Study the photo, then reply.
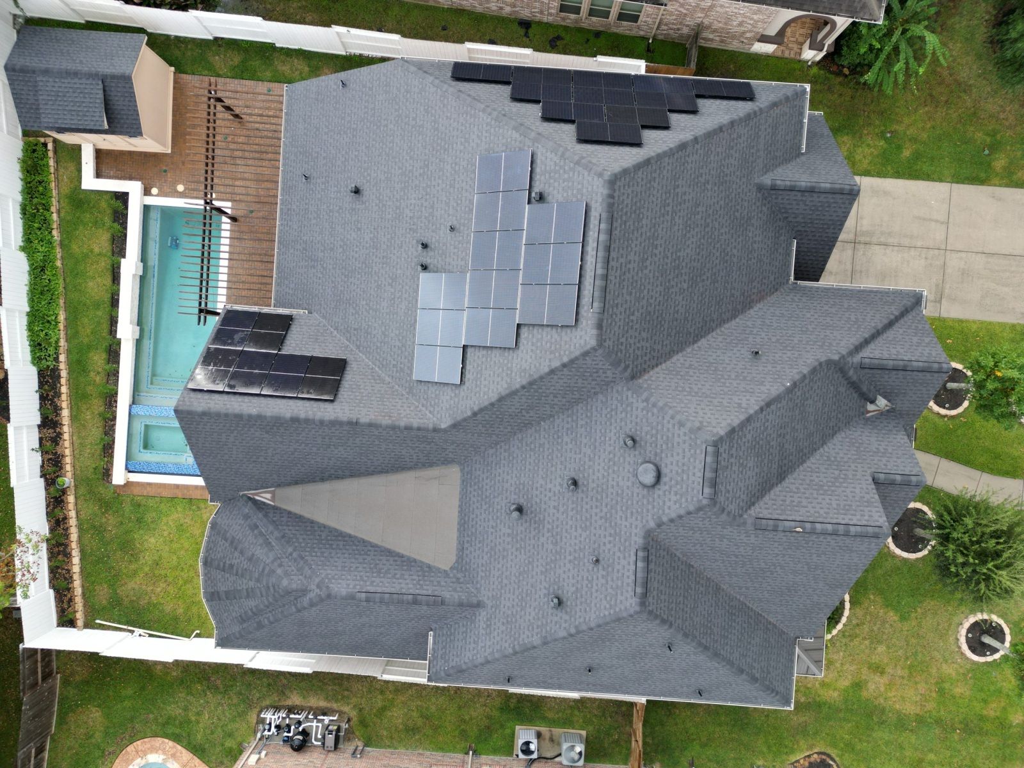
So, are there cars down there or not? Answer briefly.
No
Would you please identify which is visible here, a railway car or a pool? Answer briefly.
pool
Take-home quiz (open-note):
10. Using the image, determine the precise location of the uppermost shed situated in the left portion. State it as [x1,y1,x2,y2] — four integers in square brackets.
[5,25,176,152]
